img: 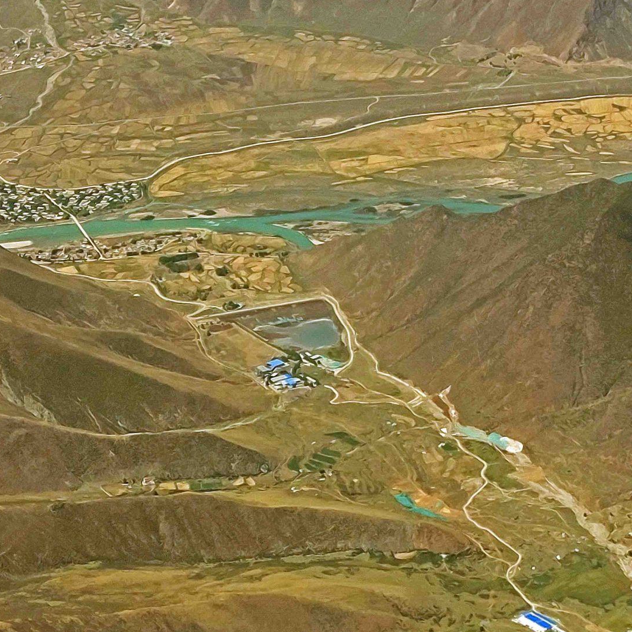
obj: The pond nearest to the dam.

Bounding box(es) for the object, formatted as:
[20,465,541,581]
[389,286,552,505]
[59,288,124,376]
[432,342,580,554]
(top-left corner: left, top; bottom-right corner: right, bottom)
[265,318,343,349]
